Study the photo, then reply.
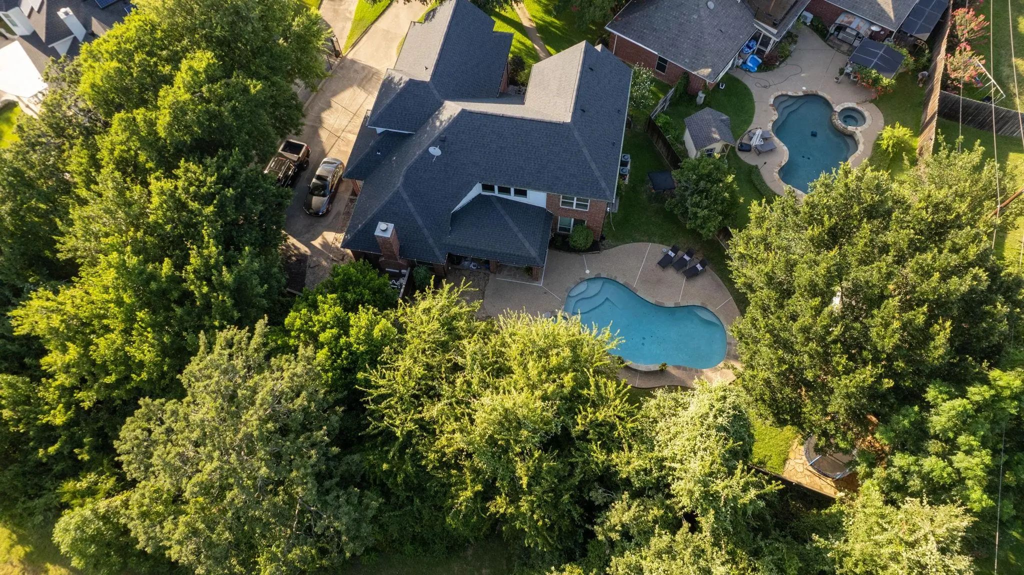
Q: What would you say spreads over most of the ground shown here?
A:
trees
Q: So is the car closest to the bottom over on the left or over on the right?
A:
left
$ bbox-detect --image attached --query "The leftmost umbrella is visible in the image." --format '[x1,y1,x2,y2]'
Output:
[740,126,760,150]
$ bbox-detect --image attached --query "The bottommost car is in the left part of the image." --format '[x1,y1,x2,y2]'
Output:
[305,163,343,215]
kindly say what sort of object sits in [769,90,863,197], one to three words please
swimming pool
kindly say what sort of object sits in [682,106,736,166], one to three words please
shed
